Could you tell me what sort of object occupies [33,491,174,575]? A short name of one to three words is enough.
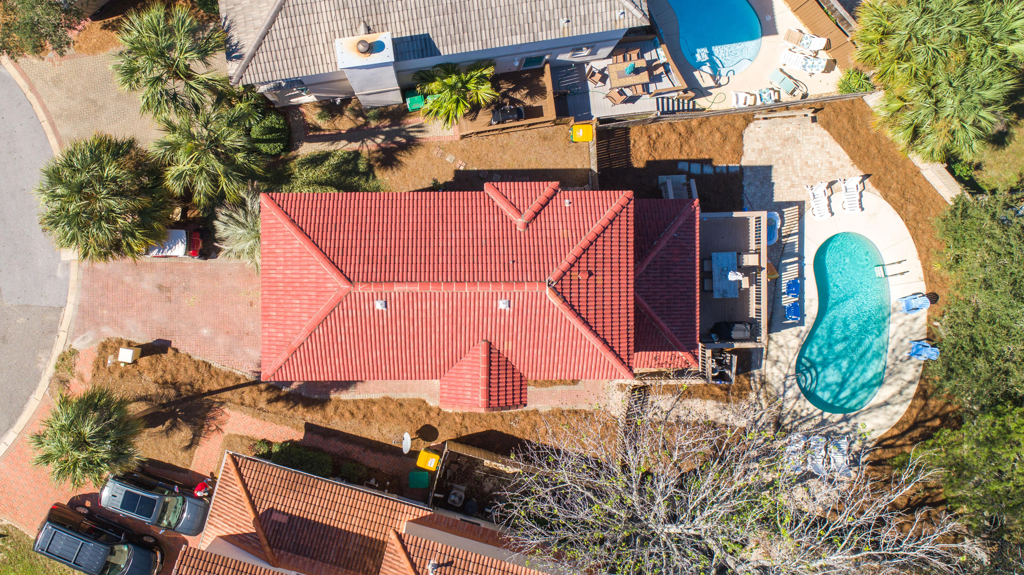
car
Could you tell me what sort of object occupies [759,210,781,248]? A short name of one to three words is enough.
swimming pool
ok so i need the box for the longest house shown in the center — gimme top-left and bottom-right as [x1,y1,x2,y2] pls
[258,179,703,413]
